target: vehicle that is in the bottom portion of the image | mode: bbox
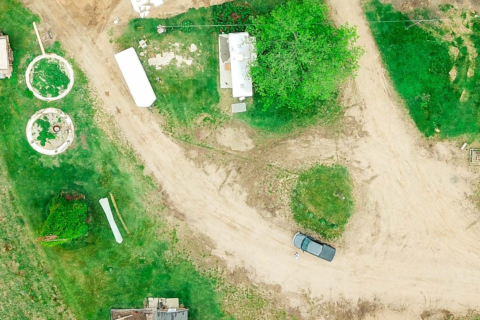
[294,234,337,263]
